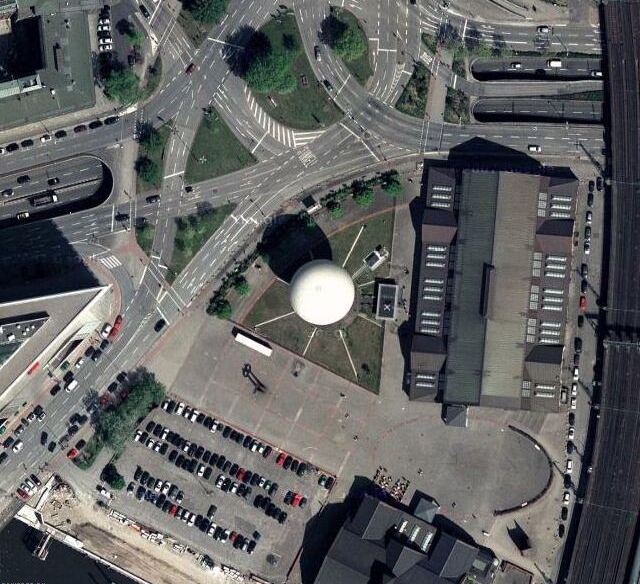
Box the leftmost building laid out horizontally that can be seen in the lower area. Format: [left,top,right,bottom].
[316,496,501,584]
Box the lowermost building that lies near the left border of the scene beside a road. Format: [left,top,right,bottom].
[0,285,119,416]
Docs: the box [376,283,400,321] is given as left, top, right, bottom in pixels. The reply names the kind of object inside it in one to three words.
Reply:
building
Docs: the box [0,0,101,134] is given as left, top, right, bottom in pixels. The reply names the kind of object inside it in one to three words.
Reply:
building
